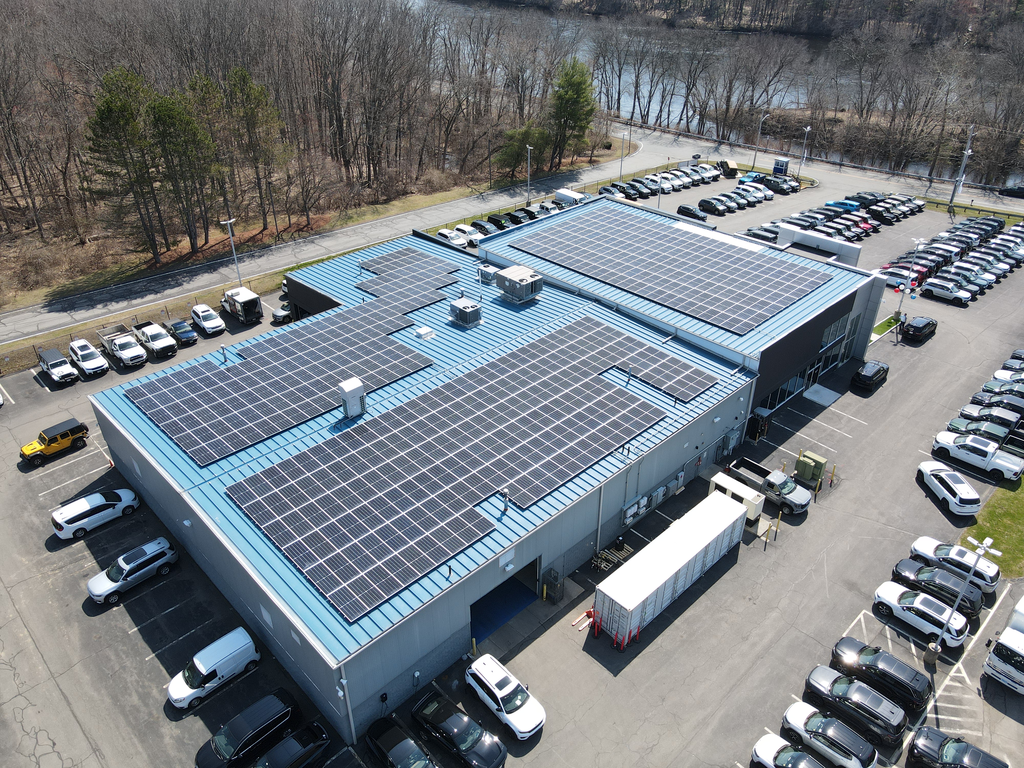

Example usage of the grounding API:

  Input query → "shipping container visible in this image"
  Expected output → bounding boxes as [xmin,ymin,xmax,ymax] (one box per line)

[594,490,748,645]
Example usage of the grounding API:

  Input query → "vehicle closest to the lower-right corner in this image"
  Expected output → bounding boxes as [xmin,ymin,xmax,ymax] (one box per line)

[910,723,1020,768]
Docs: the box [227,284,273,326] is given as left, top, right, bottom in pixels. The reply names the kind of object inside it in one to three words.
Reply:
truck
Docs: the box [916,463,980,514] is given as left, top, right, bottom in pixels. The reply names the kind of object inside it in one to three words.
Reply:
car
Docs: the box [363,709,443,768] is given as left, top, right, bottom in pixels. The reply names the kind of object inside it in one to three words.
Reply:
car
